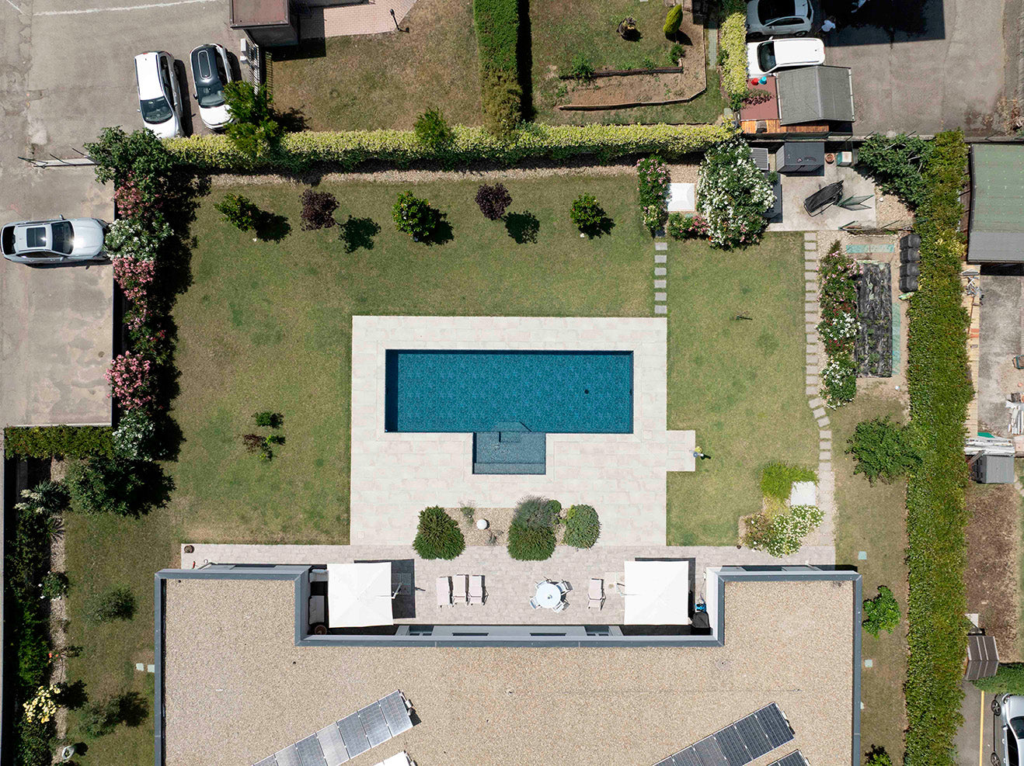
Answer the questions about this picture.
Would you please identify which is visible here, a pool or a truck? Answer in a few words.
pool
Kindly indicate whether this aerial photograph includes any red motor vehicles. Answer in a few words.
No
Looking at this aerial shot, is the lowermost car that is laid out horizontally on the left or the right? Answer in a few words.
left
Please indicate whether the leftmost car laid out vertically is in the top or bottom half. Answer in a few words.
top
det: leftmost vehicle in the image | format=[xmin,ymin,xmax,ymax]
[0,212,113,266]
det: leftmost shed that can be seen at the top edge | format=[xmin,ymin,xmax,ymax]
[231,0,299,45]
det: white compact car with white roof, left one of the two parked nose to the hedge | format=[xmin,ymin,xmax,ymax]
[135,50,193,148]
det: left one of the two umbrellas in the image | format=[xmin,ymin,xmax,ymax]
[327,561,412,627]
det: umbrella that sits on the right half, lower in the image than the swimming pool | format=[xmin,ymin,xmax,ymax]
[604,560,688,625]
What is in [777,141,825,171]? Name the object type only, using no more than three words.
shed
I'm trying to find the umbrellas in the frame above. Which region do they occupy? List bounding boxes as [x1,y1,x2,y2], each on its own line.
[327,561,412,627]
[604,560,688,625]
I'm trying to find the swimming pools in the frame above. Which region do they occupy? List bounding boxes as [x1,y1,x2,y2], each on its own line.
[358,341,652,539]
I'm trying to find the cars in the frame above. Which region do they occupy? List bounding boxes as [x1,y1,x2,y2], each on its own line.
[135,50,193,148]
[994,695,1024,766]
[185,42,239,134]
[0,212,113,266]
[739,0,823,38]
[743,30,830,78]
